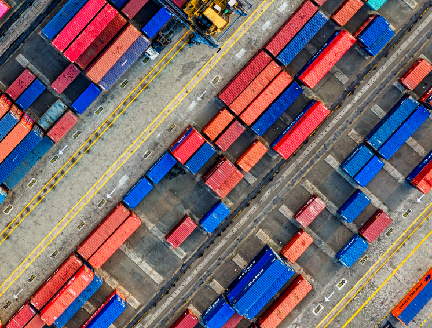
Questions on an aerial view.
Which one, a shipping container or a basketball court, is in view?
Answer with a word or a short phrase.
shipping container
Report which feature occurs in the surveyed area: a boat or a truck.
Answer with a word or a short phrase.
truck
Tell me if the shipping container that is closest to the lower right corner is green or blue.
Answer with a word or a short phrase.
blue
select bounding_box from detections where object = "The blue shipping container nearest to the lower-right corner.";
[393,269,432,326]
